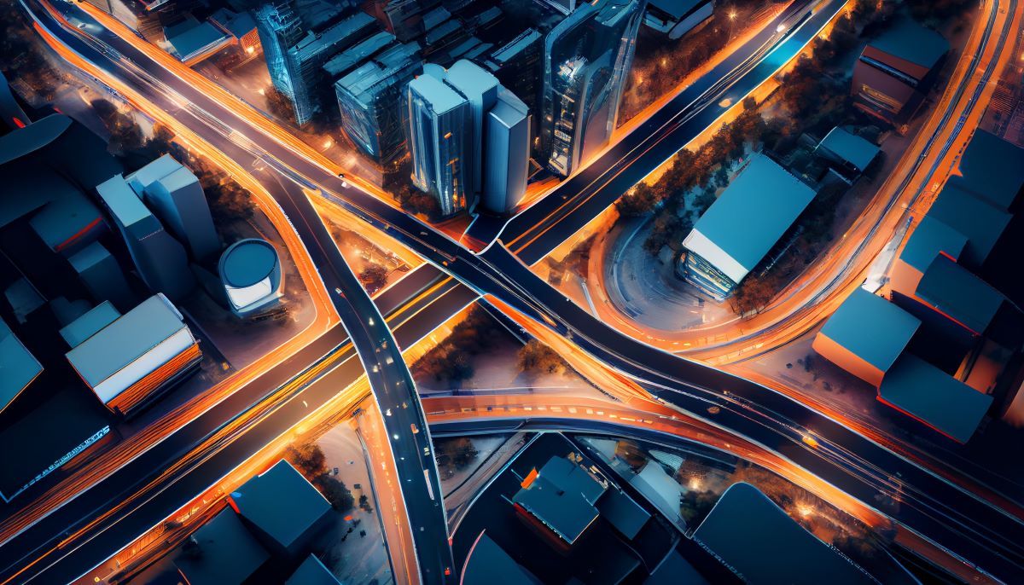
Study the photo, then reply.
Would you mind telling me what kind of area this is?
industrial area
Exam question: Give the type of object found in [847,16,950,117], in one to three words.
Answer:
building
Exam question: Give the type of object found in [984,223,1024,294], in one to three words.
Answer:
building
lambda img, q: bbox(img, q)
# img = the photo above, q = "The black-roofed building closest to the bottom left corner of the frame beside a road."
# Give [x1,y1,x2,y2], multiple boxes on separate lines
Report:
[0,380,122,514]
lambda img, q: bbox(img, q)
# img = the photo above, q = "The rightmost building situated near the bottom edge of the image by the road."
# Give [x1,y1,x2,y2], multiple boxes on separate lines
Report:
[685,484,876,585]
